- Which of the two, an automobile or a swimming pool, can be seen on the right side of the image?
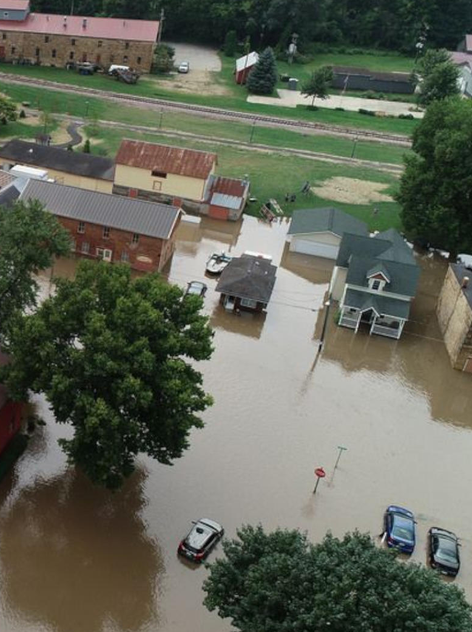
automobile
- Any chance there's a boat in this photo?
Yes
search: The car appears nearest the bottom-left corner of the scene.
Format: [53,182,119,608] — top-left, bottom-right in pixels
[177,525,221,568]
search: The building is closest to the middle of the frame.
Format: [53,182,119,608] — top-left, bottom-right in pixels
[218,257,284,313]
